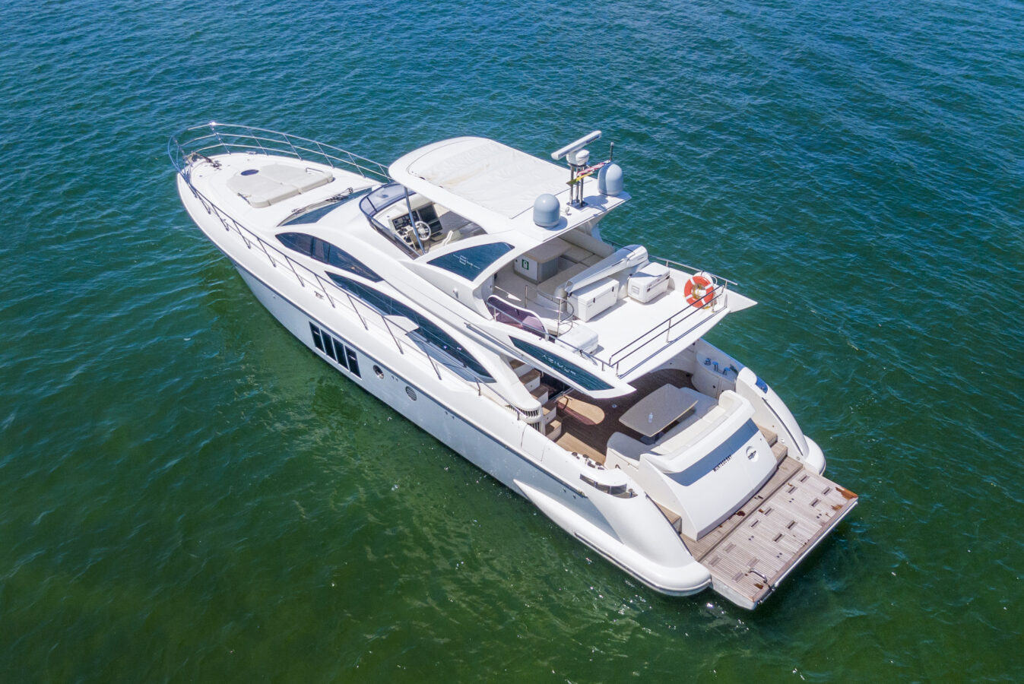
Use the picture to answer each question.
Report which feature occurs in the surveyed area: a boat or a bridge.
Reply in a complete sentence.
Looking from above, you can make out a boat.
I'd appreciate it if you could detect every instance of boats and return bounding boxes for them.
[172,123,859,608]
